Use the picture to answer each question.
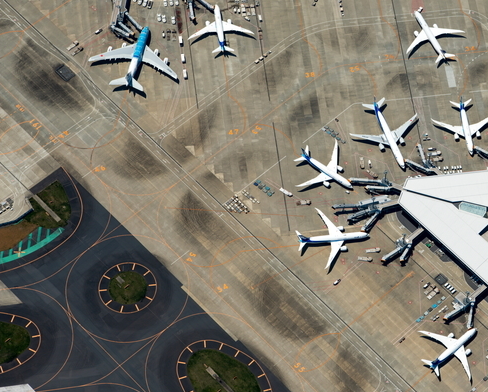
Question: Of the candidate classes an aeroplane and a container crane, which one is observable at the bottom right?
aeroplane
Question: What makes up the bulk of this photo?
paved ground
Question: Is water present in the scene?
No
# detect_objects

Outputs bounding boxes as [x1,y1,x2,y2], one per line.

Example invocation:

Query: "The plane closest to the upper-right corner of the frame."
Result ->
[406,12,465,60]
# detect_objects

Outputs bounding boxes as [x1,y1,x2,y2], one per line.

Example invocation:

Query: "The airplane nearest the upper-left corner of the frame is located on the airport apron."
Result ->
[89,27,178,91]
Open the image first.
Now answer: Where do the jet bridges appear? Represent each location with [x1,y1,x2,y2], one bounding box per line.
[359,209,382,233]
[109,23,130,42]
[473,146,488,157]
[198,0,215,14]
[416,144,427,168]
[183,0,194,20]
[333,196,393,210]
[347,206,380,222]
[349,177,390,186]
[396,242,413,262]
[123,10,143,31]
[118,20,135,39]
[462,301,475,328]
[382,240,412,263]
[405,159,429,175]
[366,185,394,194]
[443,301,472,321]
